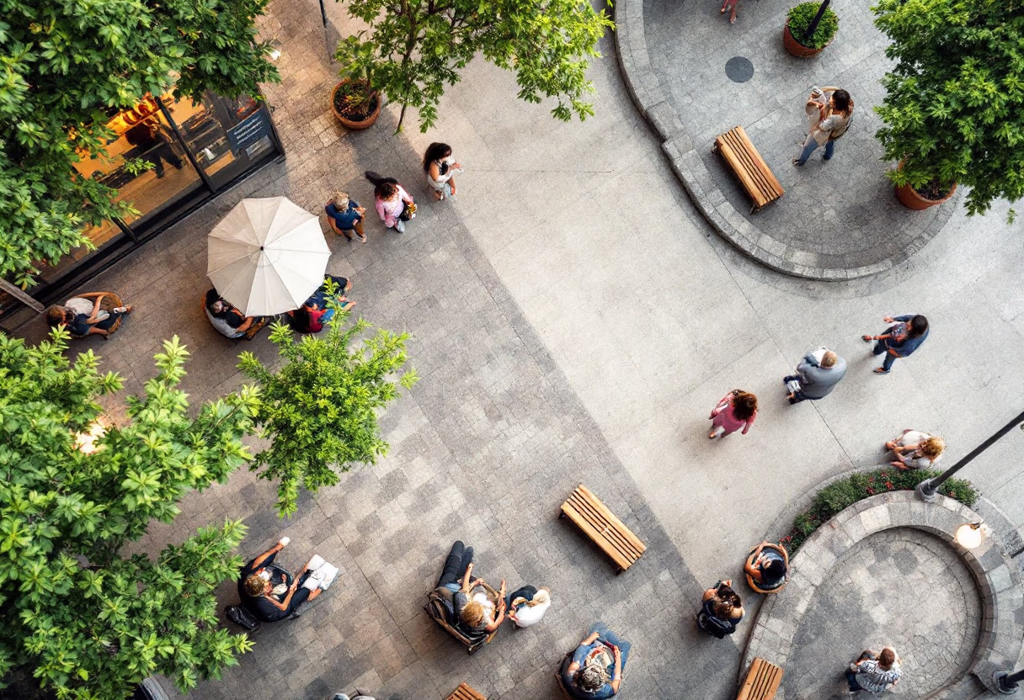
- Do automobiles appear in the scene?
No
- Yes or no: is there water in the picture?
No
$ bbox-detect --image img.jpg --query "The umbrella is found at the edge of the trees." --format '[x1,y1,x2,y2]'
[207,200,332,316]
